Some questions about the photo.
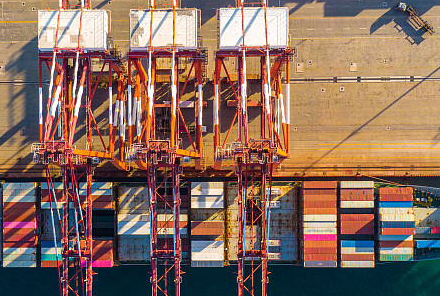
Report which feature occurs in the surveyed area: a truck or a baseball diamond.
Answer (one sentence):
Of the two, only a truck appears.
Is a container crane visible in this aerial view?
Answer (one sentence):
Yes, the frame does contain a container crane.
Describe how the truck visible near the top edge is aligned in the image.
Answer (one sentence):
In this picture, the truck visible near the top edge is oriented diagonally.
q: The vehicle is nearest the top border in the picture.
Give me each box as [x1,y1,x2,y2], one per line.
[399,1,437,34]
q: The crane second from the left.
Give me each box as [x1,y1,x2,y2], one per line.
[124,0,213,296]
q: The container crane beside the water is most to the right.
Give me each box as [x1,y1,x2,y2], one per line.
[202,0,300,296]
